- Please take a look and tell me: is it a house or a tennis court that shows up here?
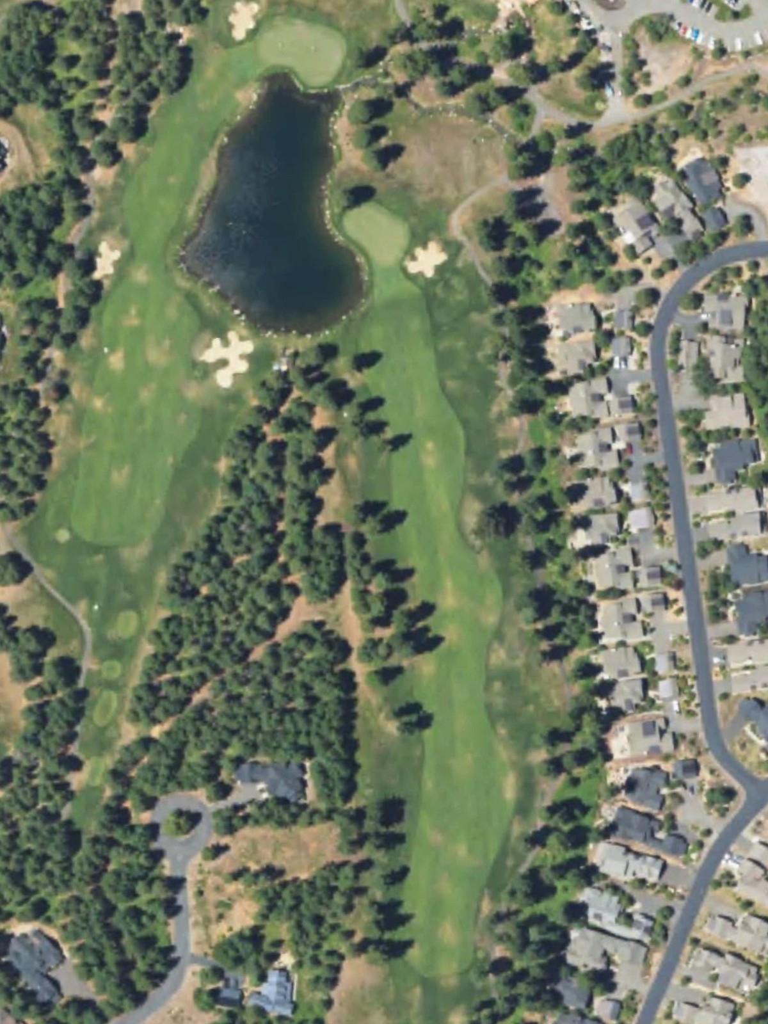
house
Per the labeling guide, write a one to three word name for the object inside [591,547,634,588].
house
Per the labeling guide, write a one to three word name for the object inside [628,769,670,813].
house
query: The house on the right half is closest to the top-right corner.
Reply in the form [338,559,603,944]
[683,157,723,204]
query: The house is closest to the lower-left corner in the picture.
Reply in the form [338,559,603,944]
[4,927,61,1005]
